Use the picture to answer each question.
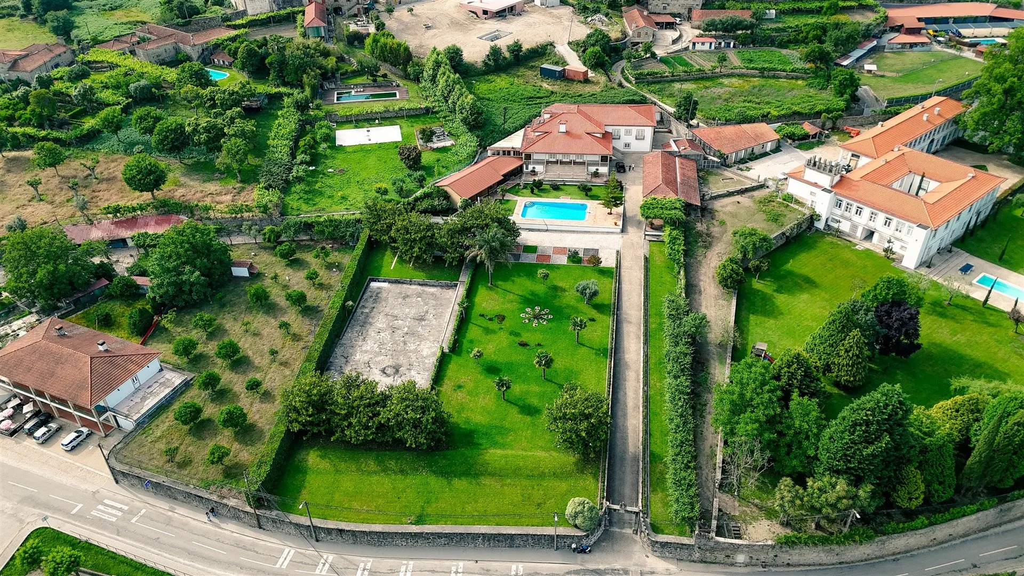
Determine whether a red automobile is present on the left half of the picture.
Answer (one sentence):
No, no red automobile can be made out on the left half of the picture.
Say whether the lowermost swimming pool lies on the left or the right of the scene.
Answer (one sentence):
You can find the lowermost swimming pool on the right side of the picture.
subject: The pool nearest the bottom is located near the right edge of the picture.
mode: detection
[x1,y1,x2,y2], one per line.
[970,269,1024,302]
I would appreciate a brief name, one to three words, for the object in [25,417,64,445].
car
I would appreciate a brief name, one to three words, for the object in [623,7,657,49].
house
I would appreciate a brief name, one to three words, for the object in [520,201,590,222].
swimming pool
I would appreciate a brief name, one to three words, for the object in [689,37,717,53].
shed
